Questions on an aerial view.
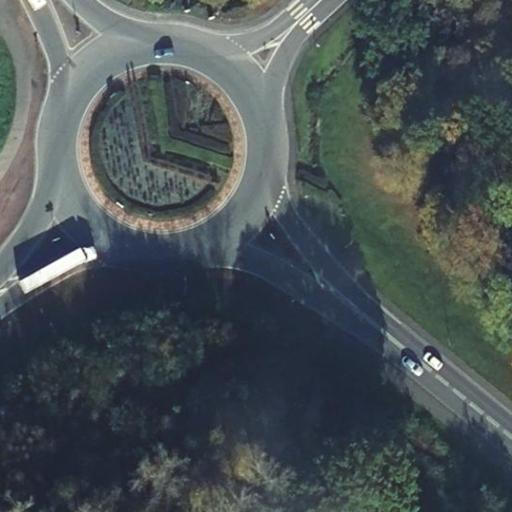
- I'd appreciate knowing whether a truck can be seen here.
Yes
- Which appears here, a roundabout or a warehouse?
roundabout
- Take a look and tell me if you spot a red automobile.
No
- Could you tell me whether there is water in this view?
No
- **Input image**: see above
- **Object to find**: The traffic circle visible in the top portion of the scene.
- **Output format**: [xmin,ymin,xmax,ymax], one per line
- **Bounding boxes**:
[50,36,274,260]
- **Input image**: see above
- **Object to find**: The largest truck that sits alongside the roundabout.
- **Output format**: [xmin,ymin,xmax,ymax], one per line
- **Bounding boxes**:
[18,244,97,294]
